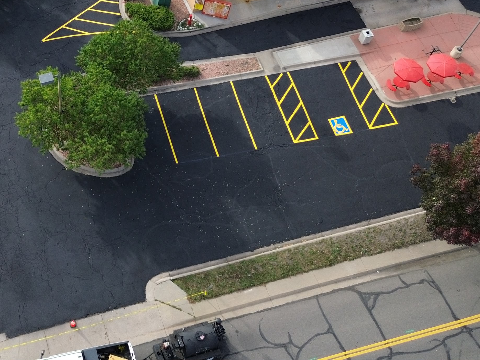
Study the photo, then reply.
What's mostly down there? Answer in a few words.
paved ground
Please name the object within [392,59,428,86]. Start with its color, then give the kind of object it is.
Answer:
red umbrella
